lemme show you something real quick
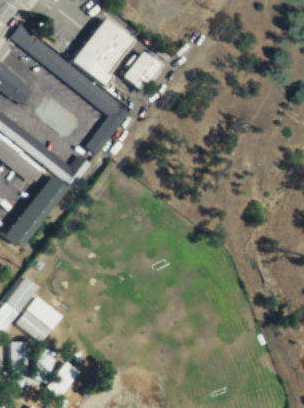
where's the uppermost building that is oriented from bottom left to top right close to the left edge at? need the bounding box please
[0,176,68,246]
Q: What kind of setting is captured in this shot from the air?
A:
sports ground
